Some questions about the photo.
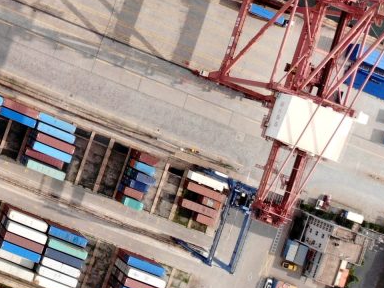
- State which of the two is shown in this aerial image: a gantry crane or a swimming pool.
gantry crane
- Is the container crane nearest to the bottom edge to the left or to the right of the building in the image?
left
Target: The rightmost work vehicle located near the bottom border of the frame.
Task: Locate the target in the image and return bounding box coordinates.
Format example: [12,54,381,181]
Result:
[275,259,298,274]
